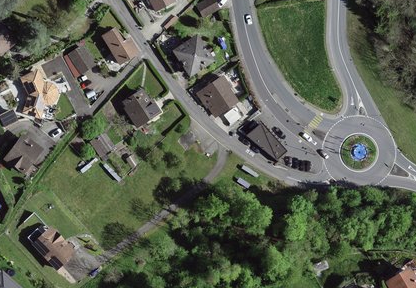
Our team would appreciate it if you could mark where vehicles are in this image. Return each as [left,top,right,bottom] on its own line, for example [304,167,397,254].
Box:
[248,120,258,129]
[238,126,248,135]
[246,14,252,26]
[84,90,98,99]
[250,144,260,153]
[238,136,250,146]
[80,80,92,88]
[274,126,284,138]
[300,160,305,170]
[286,156,291,166]
[306,160,311,172]
[292,157,298,170]
[320,150,330,160]
[302,132,314,142]
[50,128,62,138]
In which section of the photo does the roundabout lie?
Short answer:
right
